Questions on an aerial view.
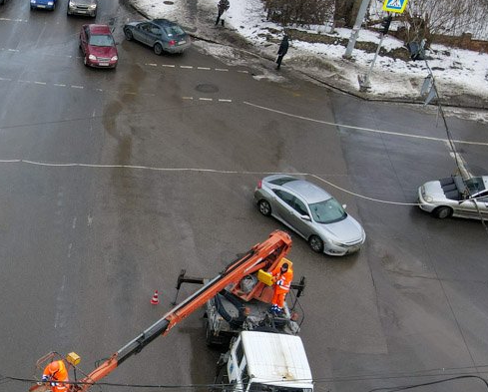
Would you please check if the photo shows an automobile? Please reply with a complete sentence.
Yes, there's an automobile here.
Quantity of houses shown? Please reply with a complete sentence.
There are no houses in the image.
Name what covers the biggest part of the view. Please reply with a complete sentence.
For the most part, this view shows paved ground.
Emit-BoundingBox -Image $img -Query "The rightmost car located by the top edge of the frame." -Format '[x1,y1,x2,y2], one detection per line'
[123,16,194,55]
